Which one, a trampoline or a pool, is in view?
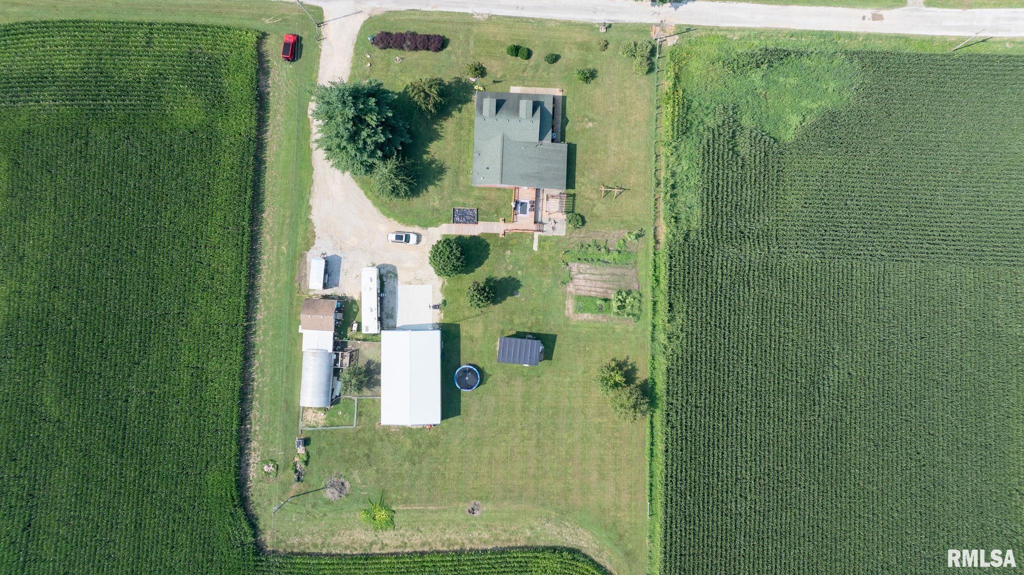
trampoline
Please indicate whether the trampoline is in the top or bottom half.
bottom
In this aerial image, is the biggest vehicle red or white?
white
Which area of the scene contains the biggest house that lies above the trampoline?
top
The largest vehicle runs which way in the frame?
up and down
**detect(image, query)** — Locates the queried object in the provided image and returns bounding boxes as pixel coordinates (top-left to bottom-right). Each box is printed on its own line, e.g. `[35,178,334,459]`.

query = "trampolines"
[455,364,481,391]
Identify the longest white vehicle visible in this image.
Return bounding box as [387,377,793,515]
[362,263,387,334]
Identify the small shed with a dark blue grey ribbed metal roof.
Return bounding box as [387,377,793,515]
[498,337,541,366]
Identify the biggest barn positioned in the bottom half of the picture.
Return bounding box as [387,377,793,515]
[380,329,445,427]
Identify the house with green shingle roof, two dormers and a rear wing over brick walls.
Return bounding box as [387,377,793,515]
[471,91,568,192]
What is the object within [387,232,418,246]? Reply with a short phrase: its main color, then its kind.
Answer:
white car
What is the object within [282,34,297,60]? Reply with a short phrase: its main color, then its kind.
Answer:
red car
